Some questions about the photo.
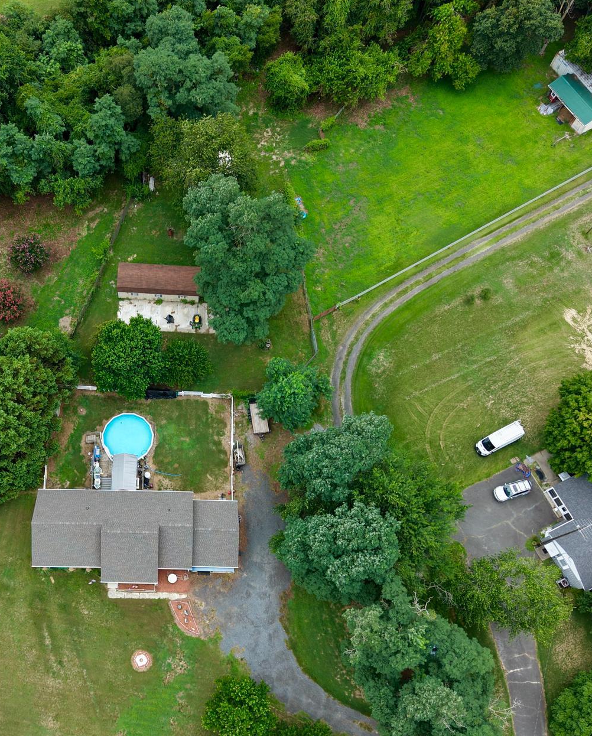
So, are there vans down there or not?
Yes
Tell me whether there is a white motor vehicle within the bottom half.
Yes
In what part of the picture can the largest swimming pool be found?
left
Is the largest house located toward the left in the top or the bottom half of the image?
bottom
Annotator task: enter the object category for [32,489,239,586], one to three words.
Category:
house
